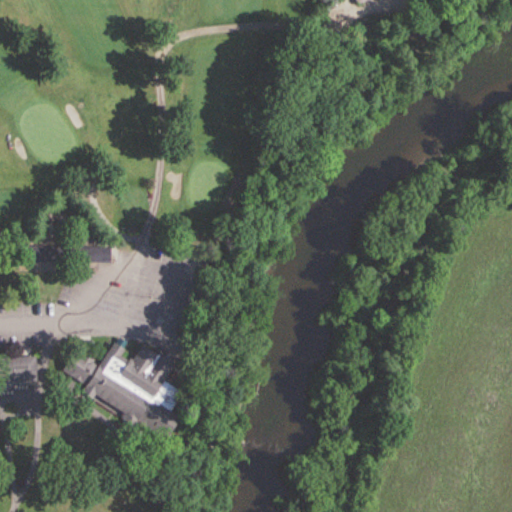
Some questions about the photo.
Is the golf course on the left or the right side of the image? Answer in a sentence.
The golf course is on the left side of the image.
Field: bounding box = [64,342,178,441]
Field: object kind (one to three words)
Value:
building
